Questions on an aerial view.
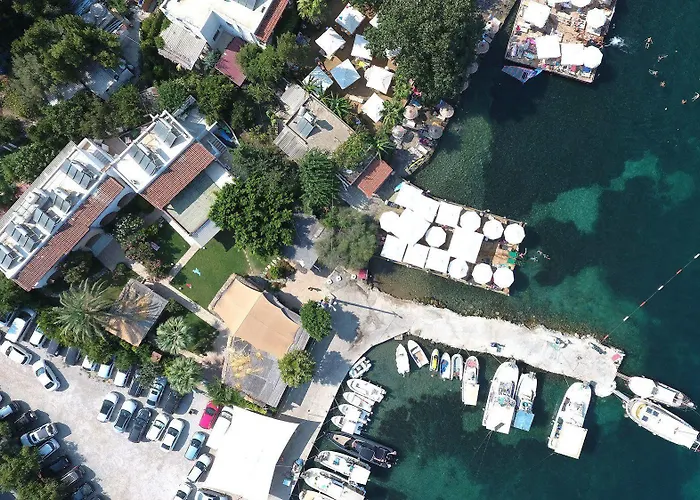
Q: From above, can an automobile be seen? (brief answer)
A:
Yes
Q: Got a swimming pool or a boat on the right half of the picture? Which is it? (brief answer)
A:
boat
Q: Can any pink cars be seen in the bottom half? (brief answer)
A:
Yes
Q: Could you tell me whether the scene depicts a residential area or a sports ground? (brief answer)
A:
residential area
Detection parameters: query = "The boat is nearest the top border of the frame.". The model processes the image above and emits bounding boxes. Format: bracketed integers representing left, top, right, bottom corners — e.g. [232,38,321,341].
[411,155,432,170]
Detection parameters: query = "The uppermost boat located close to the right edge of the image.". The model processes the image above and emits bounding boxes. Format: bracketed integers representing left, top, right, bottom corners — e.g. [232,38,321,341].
[622,374,700,410]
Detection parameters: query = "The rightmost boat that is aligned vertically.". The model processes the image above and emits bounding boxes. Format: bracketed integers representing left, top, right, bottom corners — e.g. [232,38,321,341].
[544,380,588,460]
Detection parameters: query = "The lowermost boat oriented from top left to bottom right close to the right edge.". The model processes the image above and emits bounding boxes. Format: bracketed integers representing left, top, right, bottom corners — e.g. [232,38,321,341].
[621,395,700,458]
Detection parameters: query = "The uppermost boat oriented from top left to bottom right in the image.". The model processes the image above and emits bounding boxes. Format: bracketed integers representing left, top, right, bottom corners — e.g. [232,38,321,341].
[409,341,429,370]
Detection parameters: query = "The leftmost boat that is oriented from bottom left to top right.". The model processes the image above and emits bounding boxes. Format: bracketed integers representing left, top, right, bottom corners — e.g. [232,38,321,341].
[349,354,374,377]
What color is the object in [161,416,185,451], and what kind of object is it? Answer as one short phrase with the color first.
white car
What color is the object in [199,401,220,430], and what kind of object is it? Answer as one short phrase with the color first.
pink car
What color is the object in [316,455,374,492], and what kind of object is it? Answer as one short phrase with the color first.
white boat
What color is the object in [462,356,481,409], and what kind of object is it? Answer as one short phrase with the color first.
white boat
